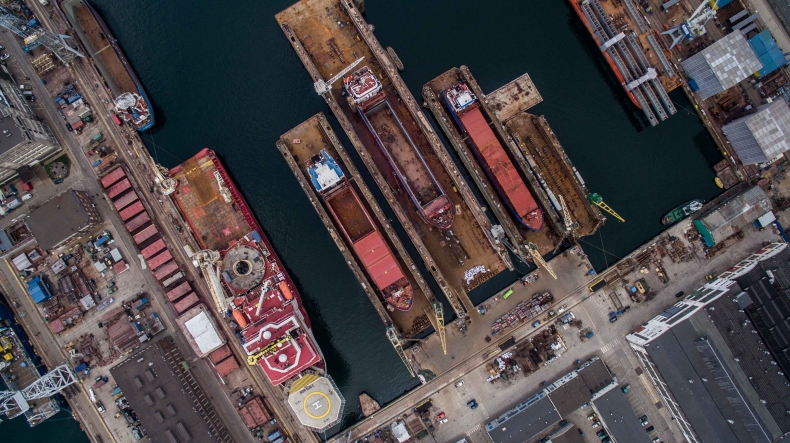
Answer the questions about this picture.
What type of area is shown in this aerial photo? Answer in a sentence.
This image shows a port.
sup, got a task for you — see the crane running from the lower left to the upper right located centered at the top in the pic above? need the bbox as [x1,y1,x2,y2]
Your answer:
[309,56,366,100]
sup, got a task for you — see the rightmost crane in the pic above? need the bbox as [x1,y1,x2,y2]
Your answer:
[659,0,718,51]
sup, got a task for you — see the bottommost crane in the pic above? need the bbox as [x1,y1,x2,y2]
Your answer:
[0,364,79,420]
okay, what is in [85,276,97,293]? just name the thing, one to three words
vehicle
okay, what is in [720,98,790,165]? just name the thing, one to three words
shed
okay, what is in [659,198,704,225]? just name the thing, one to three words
boat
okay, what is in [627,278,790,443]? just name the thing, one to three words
building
